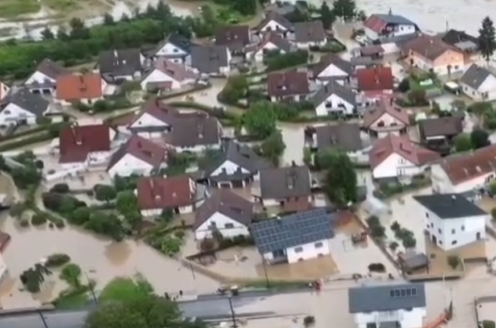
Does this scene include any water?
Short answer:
Yes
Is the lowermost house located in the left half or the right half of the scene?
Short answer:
right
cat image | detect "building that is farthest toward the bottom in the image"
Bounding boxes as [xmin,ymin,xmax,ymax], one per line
[348,279,427,328]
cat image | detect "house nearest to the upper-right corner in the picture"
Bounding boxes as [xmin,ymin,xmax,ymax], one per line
[443,24,478,50]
